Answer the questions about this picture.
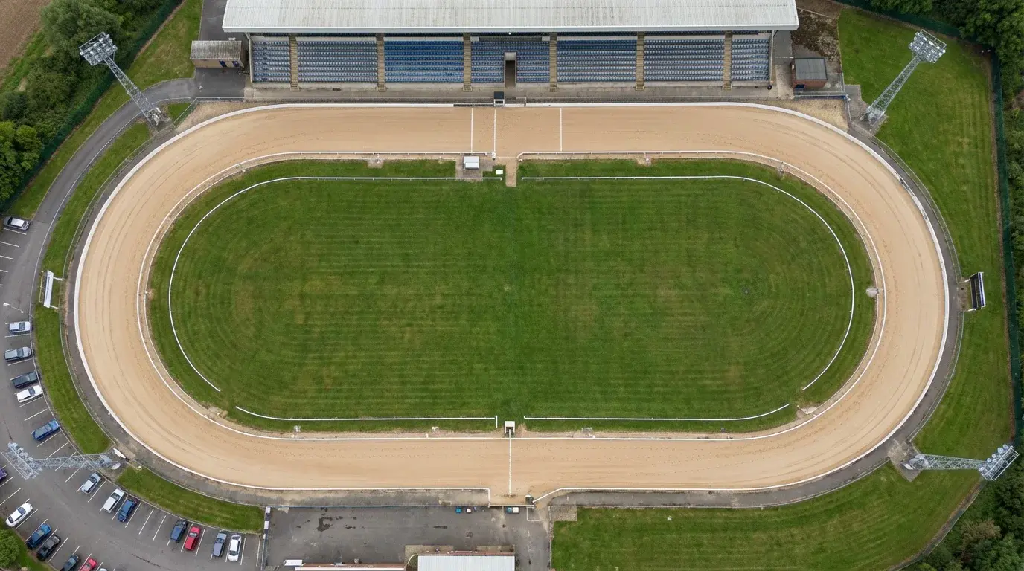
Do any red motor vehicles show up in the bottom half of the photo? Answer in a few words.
Yes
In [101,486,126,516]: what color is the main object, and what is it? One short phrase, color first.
white car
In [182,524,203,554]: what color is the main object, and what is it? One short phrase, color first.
red car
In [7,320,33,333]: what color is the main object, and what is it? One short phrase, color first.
white vehicle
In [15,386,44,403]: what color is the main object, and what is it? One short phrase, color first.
white car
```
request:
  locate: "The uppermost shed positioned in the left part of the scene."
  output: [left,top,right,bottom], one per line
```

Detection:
[186,38,241,67]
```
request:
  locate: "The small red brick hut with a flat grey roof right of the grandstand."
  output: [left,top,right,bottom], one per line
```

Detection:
[792,59,831,87]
